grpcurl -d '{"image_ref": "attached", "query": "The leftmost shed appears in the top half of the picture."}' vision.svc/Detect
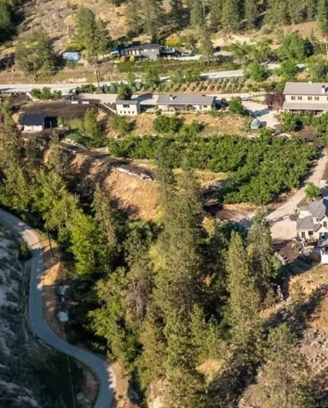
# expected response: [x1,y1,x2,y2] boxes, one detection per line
[21,116,59,131]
